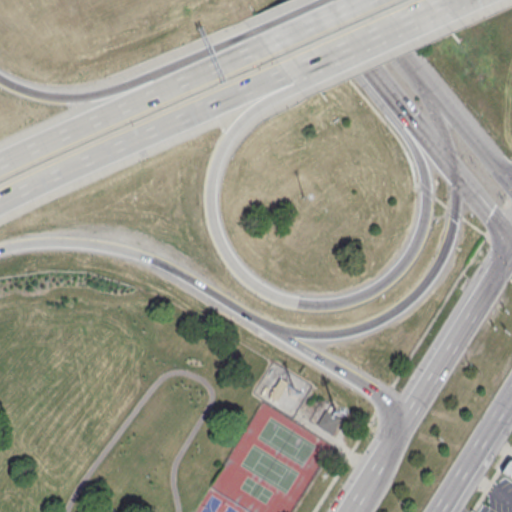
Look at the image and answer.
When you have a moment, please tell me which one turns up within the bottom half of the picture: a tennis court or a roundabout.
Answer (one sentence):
It is a tennis court that can be seen within the bottom half of the picture.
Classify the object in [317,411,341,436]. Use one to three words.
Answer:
building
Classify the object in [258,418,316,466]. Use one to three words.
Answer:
tennis court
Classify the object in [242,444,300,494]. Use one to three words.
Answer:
tennis court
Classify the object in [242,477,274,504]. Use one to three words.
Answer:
sports court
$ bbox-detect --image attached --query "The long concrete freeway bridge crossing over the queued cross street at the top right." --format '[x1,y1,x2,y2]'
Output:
[248,0,450,100]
